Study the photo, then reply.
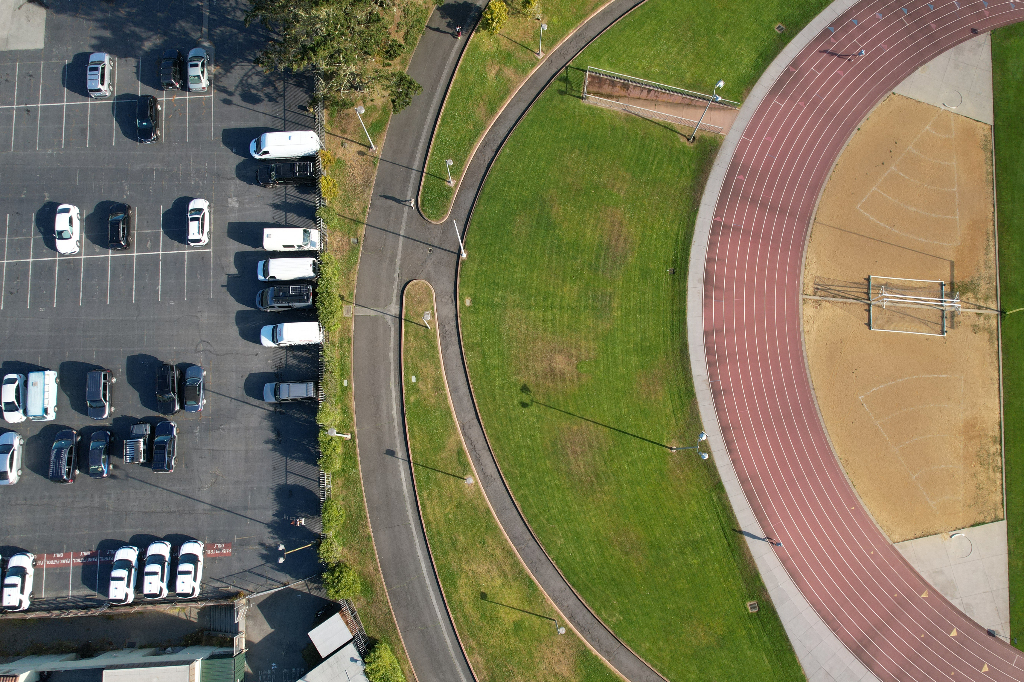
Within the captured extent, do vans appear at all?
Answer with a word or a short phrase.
Yes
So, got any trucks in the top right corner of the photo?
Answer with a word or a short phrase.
No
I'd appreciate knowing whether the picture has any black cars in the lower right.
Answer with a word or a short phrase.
No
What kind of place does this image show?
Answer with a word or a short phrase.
sports ground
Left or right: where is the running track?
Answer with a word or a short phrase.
right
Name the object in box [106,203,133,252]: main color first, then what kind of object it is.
black car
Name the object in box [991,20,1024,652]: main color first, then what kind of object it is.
green sports field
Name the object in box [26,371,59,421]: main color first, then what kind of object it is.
white vehicle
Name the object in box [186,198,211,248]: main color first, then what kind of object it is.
white car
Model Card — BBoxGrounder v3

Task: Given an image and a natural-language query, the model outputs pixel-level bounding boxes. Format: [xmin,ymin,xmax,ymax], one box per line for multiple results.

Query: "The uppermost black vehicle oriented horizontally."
[257,161,320,186]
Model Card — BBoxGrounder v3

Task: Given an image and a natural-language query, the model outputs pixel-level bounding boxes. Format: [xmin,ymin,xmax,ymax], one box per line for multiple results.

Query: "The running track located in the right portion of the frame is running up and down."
[703,0,1024,682]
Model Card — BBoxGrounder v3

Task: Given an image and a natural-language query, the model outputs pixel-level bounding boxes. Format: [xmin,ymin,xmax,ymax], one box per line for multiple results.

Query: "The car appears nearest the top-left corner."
[86,52,112,100]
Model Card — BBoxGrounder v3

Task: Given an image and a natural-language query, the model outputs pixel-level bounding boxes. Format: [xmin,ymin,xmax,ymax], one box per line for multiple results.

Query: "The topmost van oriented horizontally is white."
[251,129,326,159]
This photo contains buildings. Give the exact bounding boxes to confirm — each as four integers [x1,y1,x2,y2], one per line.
[309,608,358,658]
[0,641,240,682]
[300,638,379,682]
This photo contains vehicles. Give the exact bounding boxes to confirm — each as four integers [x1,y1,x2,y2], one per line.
[123,424,154,467]
[88,430,115,479]
[183,365,208,413]
[47,429,81,484]
[186,198,211,248]
[175,539,208,599]
[26,371,59,421]
[0,373,28,424]
[1,551,40,611]
[257,285,316,310]
[251,129,326,159]
[154,364,182,415]
[142,540,176,600]
[0,432,26,486]
[108,545,143,605]
[151,421,180,474]
[259,228,322,253]
[86,370,114,420]
[258,258,319,282]
[187,48,210,94]
[262,322,327,346]
[160,49,184,92]
[264,379,317,403]
[86,52,112,100]
[54,203,81,255]
[134,94,161,145]
[257,161,320,186]
[106,203,133,252]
